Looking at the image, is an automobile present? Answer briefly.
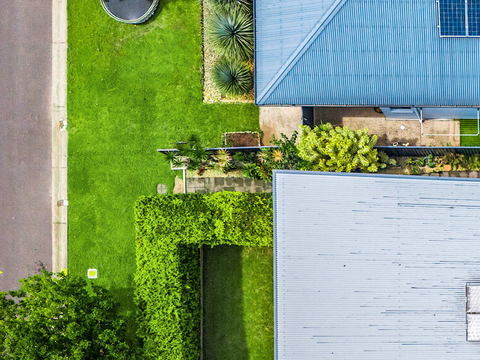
No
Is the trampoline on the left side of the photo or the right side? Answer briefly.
left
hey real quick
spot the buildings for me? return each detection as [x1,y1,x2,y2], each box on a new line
[275,169,480,360]
[252,0,480,122]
